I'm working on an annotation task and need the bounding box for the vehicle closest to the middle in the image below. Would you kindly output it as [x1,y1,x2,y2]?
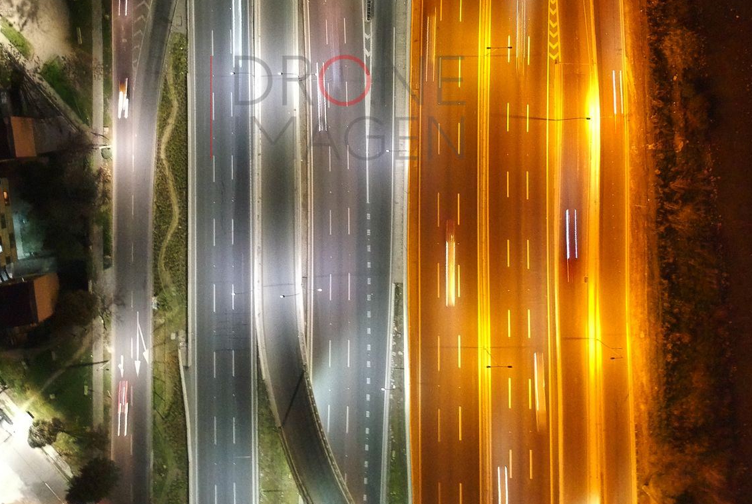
[444,261,457,287]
